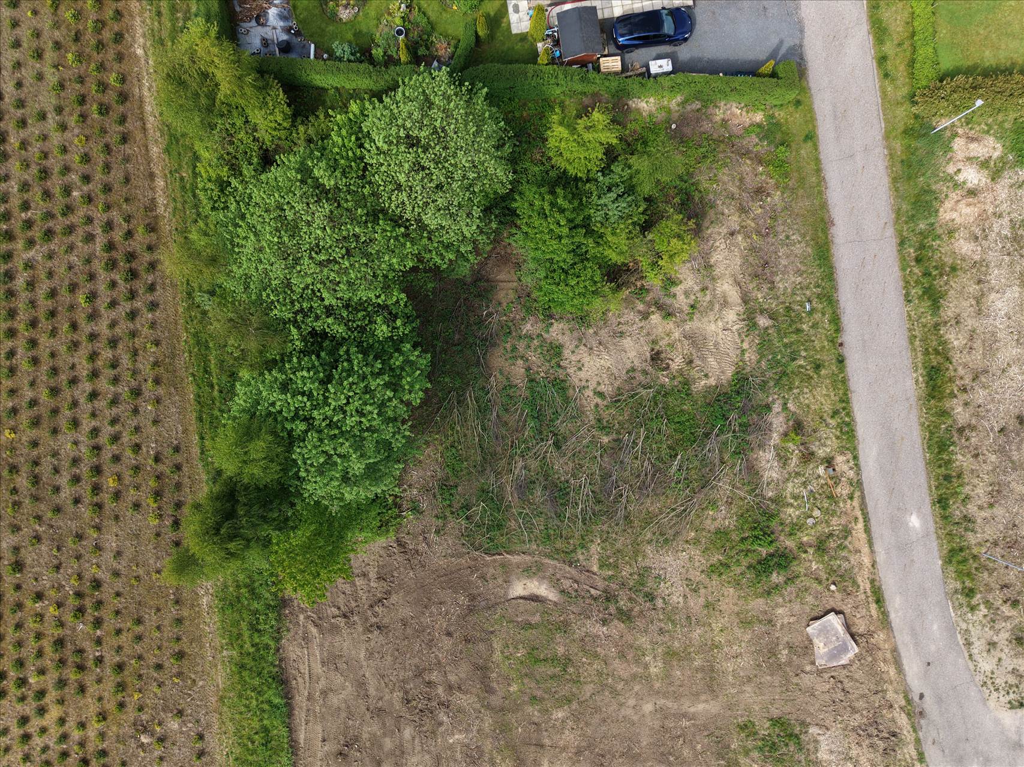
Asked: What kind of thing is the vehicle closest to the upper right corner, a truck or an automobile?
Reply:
automobile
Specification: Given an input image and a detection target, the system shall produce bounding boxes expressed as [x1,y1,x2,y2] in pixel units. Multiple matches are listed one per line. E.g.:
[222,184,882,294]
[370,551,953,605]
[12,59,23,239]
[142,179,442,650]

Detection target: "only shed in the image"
[556,4,603,72]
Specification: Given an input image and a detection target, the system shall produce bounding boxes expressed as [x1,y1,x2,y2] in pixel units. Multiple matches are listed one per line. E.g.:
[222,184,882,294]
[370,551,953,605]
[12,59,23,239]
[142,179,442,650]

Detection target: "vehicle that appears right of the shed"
[611,4,693,53]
